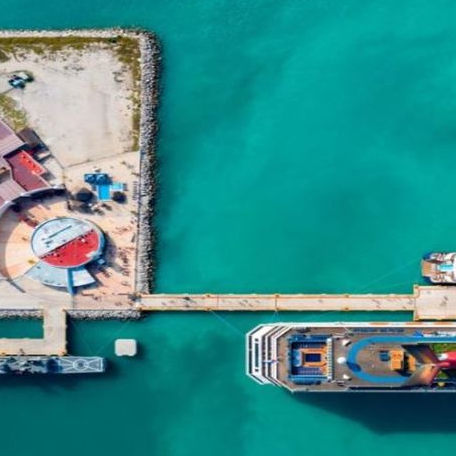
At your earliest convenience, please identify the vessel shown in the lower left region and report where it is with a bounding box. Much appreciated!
[0,356,105,375]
